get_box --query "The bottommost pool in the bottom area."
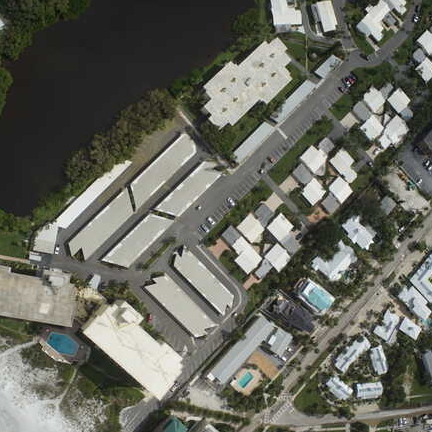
[231,370,263,396]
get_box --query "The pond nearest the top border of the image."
[0,0,253,216]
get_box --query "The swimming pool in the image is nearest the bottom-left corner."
[38,327,90,365]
